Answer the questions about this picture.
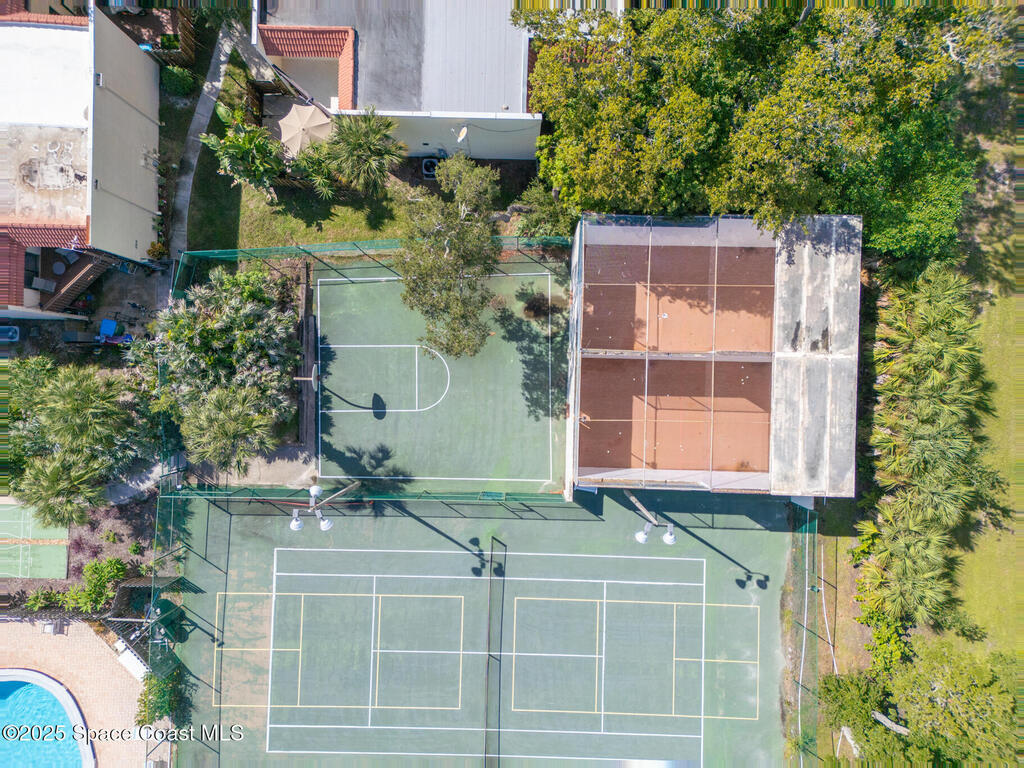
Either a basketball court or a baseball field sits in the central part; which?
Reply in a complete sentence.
You can see a basketball court in the central part.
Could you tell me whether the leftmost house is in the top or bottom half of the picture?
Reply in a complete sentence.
Seen from above, the leftmost house lies in the top half of the view.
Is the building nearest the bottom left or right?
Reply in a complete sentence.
The building nearest the bottom sits on the right side.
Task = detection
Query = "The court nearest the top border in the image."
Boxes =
[313,256,570,492]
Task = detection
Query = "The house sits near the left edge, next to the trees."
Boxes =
[0,0,162,325]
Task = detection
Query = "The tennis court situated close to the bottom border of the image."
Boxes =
[181,480,789,768]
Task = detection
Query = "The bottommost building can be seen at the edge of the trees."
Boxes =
[565,209,862,509]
